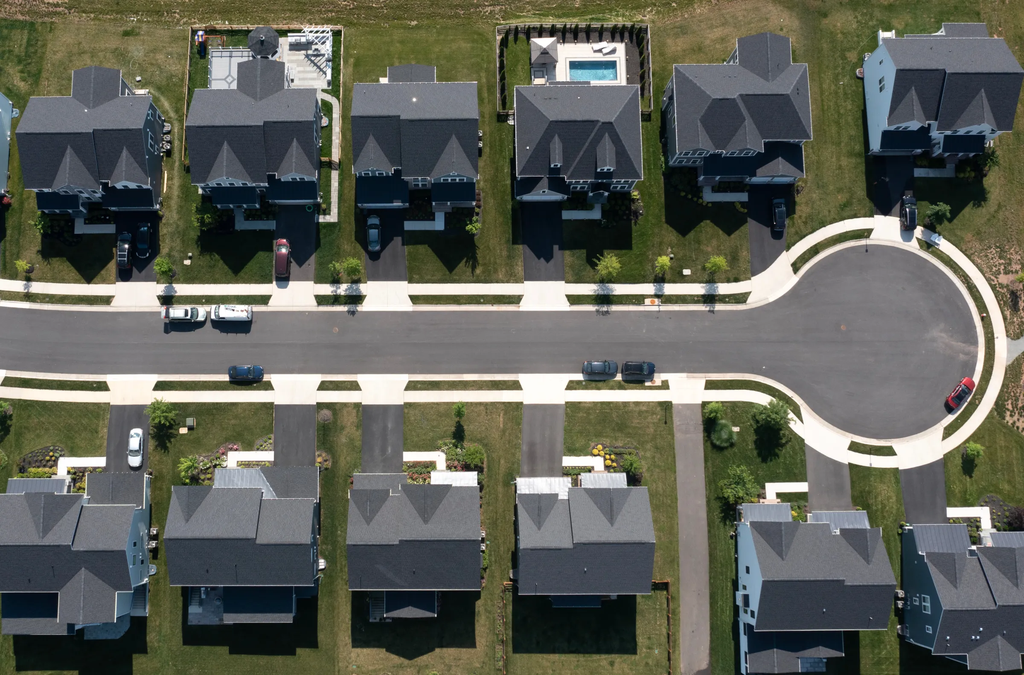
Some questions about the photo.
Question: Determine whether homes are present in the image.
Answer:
Yes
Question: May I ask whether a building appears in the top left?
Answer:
Yes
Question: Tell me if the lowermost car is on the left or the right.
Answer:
left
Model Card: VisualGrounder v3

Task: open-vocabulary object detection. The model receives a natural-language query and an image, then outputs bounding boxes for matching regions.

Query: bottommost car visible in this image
[126,428,146,467]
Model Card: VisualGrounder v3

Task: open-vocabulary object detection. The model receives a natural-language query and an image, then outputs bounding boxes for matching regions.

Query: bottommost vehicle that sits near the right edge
[944,375,974,409]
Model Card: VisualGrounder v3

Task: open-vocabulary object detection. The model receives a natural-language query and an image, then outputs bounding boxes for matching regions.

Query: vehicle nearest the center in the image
[581,359,618,376]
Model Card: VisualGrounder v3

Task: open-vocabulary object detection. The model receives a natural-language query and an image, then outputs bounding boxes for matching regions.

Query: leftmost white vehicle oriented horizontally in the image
[160,305,207,323]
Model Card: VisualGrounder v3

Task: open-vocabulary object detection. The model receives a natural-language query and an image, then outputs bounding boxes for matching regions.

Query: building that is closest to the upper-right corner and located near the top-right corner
[860,22,1024,160]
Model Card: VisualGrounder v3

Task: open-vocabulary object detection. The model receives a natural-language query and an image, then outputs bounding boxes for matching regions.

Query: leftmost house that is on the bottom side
[0,473,152,636]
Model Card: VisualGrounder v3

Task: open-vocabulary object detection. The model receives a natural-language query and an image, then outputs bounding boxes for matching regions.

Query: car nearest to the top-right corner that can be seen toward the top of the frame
[898,196,920,232]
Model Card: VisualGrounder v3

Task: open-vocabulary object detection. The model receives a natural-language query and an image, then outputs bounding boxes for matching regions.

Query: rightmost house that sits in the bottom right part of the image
[900,524,1024,673]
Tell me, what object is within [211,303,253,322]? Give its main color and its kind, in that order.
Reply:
white vehicle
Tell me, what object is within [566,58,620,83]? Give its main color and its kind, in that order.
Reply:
blue swimming pool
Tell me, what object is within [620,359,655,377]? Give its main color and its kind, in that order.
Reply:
black car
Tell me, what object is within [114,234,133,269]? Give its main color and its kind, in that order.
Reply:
black car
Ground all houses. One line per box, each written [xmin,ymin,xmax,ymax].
[164,467,320,623]
[860,22,1024,160]
[0,473,152,636]
[349,62,479,209]
[347,471,481,622]
[514,78,644,207]
[515,473,656,608]
[732,503,897,675]
[185,58,322,211]
[900,524,1024,673]
[659,33,813,183]
[16,66,166,216]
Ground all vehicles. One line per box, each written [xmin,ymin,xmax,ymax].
[365,216,382,252]
[769,198,788,231]
[581,359,618,376]
[898,196,920,232]
[228,363,265,381]
[114,234,133,269]
[944,375,974,409]
[134,223,153,258]
[620,359,655,377]
[126,428,146,467]
[211,303,253,322]
[160,305,207,323]
[273,240,292,278]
